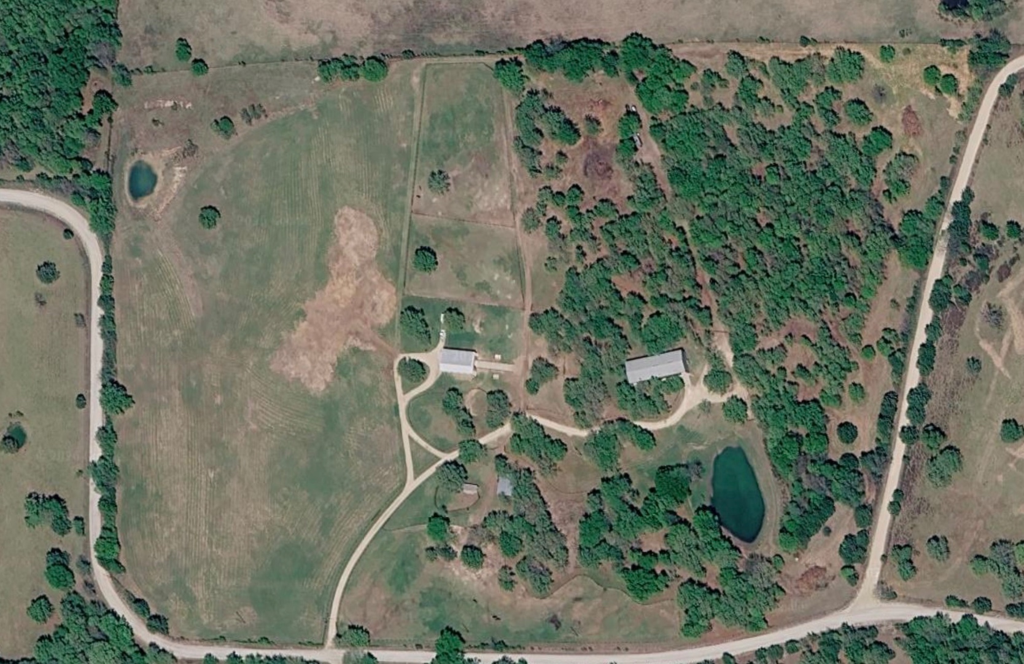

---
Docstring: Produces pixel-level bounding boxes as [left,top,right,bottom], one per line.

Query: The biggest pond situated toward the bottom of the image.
[712,447,765,541]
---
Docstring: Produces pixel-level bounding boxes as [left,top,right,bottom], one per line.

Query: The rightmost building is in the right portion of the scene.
[625,349,686,383]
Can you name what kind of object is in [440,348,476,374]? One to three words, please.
house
